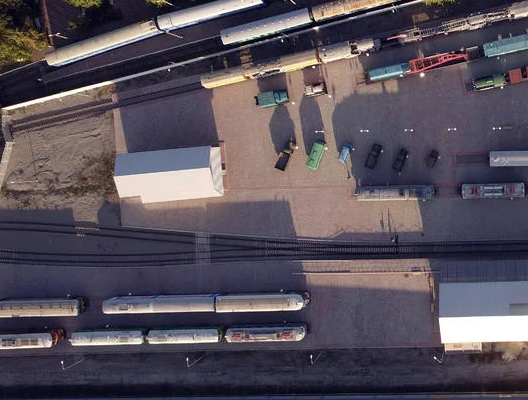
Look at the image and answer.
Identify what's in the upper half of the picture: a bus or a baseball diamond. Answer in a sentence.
You can see a bus in the upper half of the picture.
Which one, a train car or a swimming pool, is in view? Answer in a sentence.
Of the two, only a train car appears.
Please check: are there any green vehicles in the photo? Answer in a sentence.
Yes, I can see a green vehicle in this picture.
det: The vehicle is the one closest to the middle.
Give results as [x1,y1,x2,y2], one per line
[273,138,300,172]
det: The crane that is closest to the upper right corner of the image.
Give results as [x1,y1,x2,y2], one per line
[408,9,511,44]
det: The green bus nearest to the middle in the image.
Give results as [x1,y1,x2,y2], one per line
[306,139,329,171]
